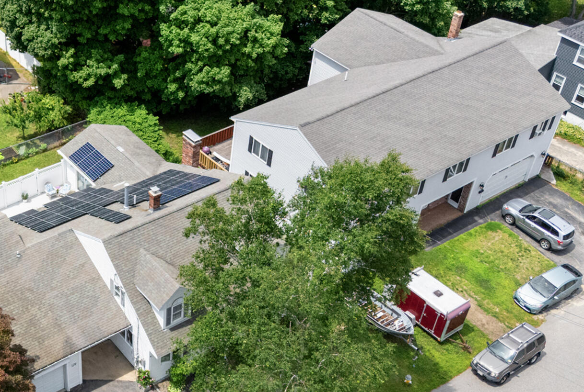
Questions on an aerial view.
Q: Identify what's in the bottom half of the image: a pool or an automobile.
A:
automobile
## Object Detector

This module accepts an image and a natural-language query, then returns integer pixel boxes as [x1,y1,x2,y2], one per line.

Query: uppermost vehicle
[504,204,583,254]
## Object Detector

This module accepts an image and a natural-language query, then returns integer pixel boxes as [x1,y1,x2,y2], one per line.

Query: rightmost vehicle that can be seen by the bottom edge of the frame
[468,319,552,386]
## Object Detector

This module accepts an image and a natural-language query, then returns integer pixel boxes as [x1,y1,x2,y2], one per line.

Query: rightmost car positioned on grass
[513,263,584,312]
